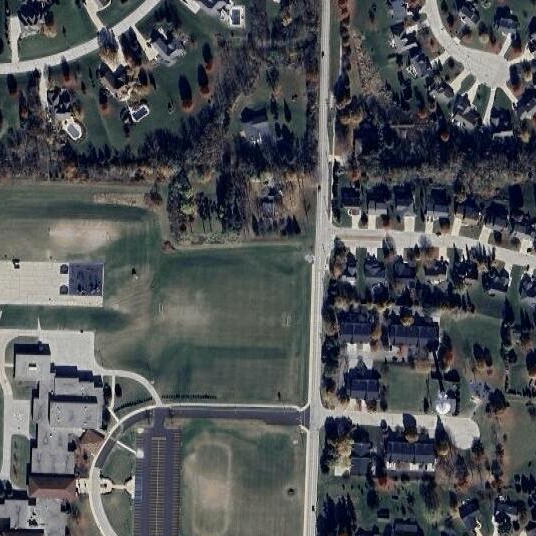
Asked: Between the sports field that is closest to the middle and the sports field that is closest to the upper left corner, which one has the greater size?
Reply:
the sports field that is closest to the middle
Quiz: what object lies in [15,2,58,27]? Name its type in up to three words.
house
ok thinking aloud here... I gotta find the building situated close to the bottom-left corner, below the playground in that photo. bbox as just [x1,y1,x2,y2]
[0,354,103,536]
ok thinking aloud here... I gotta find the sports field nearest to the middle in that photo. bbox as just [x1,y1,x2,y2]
[158,273,294,388]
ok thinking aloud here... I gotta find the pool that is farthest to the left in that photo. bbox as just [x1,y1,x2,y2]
[66,122,82,140]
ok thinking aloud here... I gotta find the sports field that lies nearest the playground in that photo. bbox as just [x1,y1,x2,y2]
[37,215,121,255]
